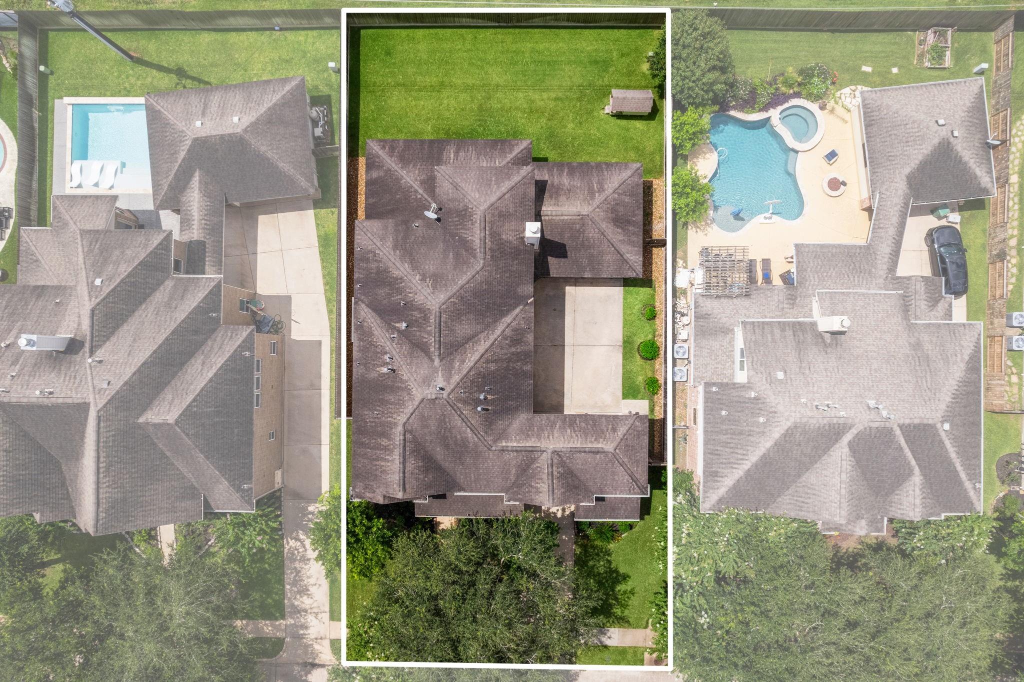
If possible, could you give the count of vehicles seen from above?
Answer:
one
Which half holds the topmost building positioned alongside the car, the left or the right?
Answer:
right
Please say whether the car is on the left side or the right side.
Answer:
right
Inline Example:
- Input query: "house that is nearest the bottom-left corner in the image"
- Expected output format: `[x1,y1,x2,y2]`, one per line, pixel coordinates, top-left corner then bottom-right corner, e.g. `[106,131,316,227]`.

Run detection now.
[0,193,283,536]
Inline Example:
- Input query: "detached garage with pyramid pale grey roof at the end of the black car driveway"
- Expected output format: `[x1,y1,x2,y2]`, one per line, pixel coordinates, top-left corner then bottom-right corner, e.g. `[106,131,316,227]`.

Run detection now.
[848,76,998,210]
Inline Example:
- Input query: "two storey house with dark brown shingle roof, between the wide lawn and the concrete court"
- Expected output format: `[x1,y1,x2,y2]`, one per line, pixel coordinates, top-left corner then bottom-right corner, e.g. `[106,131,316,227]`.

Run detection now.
[349,138,651,522]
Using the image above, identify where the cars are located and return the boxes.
[928,226,976,297]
